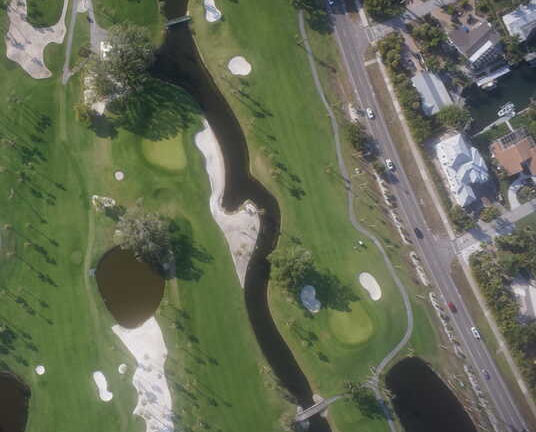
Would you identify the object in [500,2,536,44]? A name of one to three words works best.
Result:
house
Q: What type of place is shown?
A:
golf course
